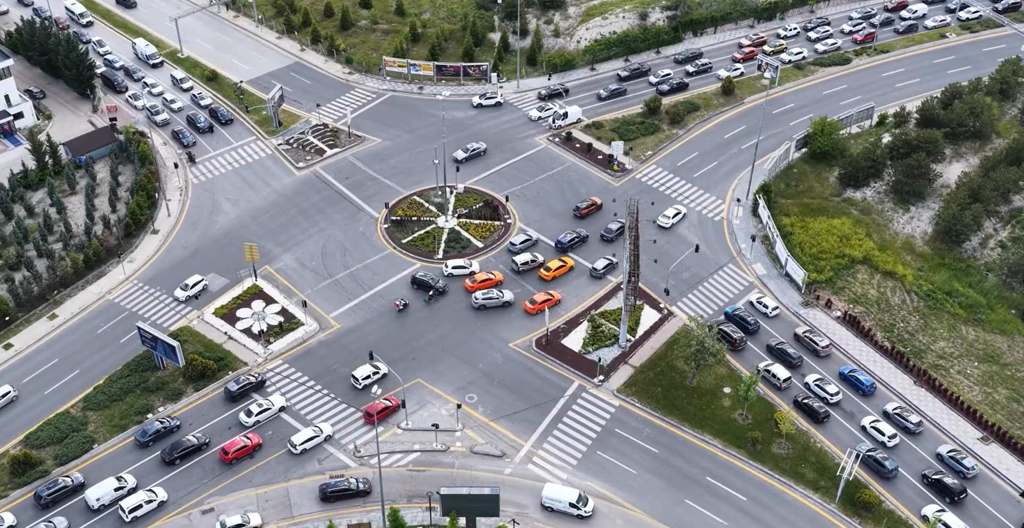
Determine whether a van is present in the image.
Yes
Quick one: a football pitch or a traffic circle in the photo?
traffic circle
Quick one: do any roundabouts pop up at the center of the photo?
Yes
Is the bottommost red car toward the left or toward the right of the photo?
left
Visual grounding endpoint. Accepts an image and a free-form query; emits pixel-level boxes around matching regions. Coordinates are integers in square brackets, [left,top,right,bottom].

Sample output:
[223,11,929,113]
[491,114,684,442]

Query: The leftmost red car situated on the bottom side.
[217,434,265,465]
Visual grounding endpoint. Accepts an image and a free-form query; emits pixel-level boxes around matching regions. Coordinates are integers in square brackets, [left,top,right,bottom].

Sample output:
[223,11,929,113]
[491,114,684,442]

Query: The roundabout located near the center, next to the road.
[384,187,510,260]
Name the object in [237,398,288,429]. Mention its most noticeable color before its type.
white car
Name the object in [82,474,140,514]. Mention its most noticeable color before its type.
white van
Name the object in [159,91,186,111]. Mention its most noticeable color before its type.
white car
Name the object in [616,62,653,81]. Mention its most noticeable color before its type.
gray vehicle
